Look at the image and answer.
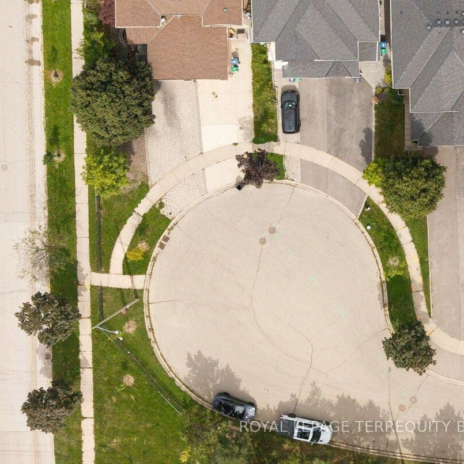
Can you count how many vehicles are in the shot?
3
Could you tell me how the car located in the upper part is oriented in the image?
vertically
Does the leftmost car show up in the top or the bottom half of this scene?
bottom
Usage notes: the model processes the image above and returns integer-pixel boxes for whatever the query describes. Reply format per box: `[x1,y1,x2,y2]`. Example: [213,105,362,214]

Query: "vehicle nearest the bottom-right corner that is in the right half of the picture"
[277,415,334,445]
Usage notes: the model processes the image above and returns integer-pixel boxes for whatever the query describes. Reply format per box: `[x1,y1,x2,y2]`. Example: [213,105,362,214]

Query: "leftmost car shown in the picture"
[213,391,259,419]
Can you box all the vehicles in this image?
[277,415,334,445]
[279,90,300,134]
[213,391,259,419]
